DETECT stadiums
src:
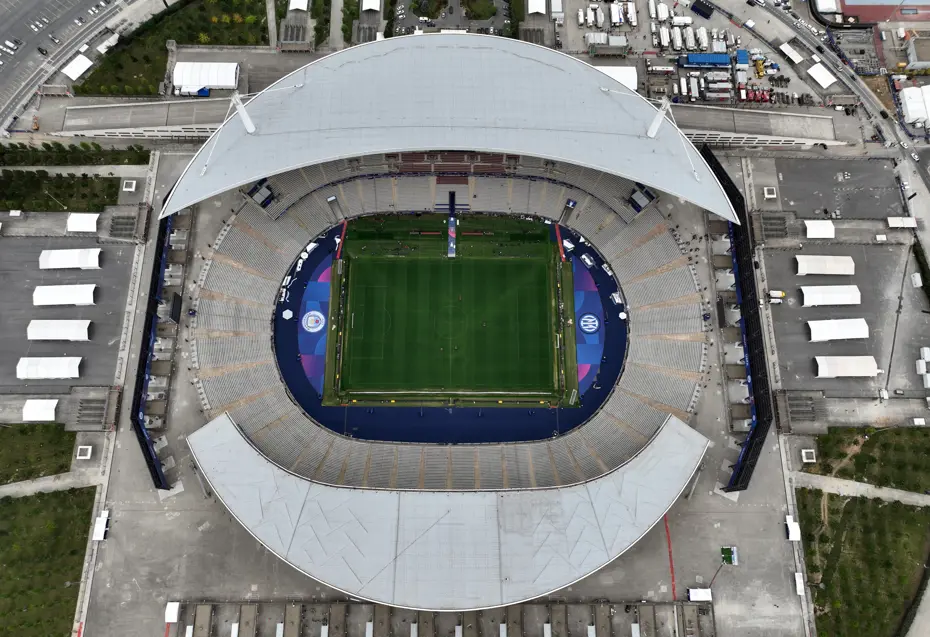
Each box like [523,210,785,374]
[158,32,740,612]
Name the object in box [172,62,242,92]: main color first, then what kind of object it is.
white tent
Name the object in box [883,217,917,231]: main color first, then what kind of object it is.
white tent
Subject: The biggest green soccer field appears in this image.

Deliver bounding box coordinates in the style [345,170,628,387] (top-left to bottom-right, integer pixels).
[322,212,580,407]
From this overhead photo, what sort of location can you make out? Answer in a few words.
sports ground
